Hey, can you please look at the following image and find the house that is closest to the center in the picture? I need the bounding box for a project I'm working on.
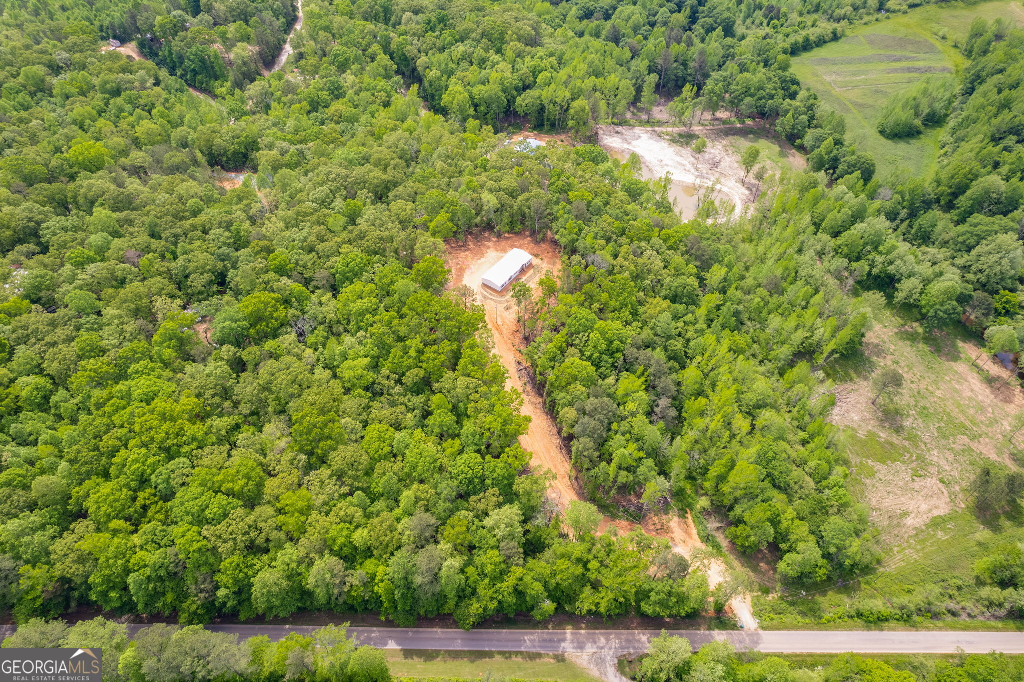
[481,248,533,292]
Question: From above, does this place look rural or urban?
rural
